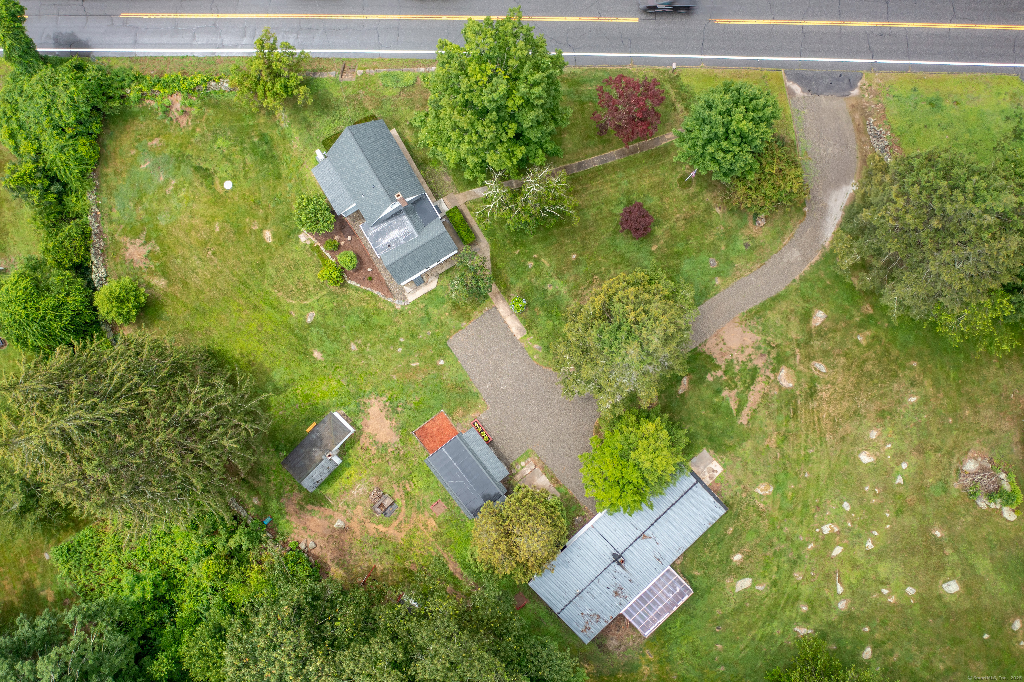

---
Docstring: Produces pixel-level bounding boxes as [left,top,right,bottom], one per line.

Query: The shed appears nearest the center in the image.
[424,428,510,522]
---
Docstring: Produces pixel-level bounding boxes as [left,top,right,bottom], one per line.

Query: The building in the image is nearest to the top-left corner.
[312,121,460,286]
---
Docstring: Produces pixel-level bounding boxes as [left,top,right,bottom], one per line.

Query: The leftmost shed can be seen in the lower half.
[281,411,357,492]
